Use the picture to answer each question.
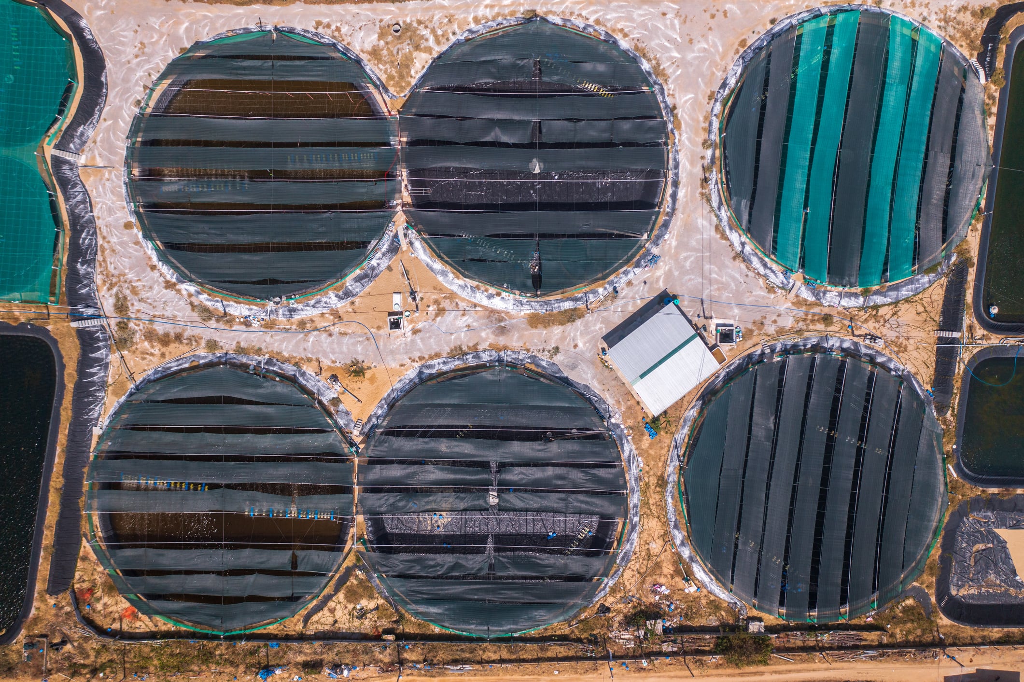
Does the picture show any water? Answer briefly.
Yes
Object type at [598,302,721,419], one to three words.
shed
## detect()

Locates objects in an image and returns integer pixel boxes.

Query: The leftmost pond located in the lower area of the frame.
[0,321,64,642]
